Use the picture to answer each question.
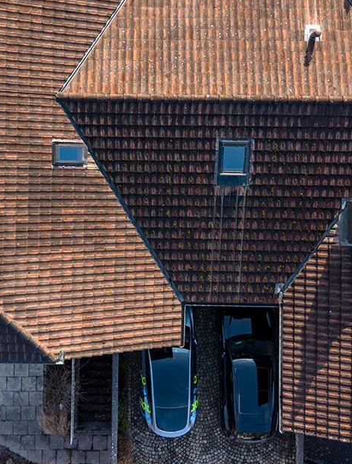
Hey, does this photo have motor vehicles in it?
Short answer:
Yes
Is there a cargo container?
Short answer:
No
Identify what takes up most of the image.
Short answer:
buildings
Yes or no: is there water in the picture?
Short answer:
No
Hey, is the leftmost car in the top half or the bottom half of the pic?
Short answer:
bottom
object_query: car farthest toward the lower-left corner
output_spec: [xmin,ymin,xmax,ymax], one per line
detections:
[143,313,206,436]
